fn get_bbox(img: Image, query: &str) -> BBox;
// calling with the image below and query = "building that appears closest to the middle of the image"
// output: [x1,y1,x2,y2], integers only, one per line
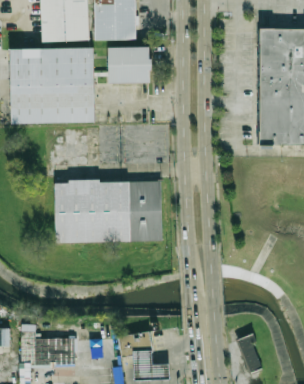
[55,182,162,244]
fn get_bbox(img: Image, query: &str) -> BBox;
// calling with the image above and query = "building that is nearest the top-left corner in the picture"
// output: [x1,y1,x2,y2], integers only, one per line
[40,0,90,42]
